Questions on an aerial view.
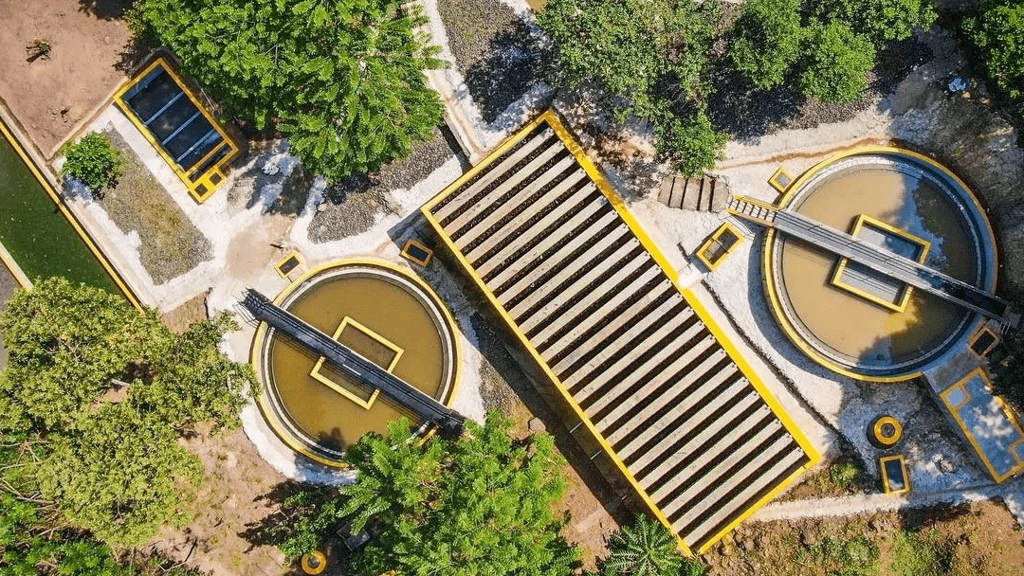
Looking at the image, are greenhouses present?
No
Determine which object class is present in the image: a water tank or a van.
water tank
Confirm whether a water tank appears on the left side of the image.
Yes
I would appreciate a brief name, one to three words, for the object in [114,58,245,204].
water tank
